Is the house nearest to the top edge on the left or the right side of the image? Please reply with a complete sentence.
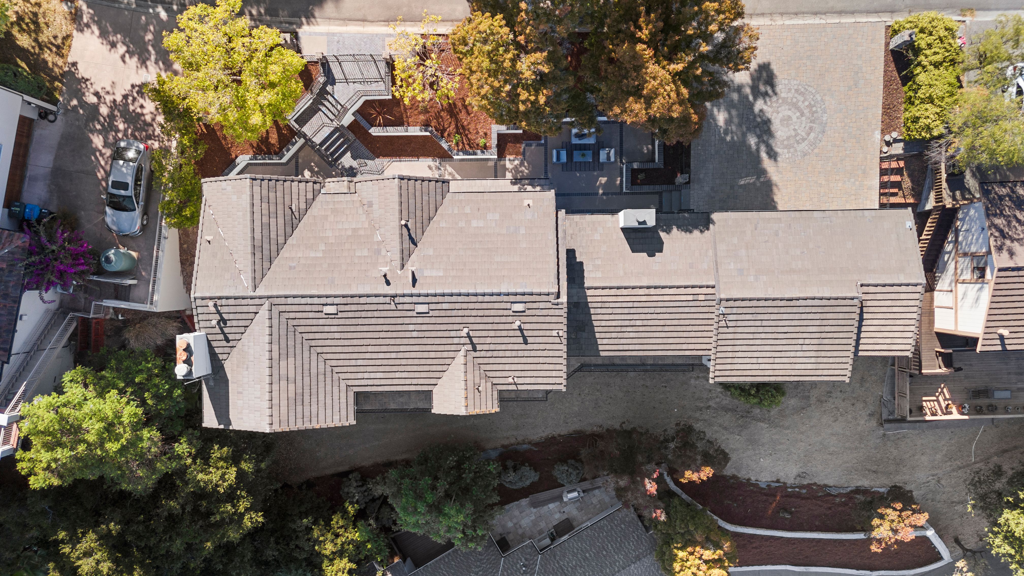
It is on the left.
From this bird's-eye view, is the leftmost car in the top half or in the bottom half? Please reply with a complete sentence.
The leftmost car is in the top half of the image.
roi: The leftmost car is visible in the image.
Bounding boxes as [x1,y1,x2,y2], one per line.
[102,139,156,239]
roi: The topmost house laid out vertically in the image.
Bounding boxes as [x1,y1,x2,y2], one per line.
[0,86,61,230]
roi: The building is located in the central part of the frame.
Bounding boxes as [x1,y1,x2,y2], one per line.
[176,174,927,433]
